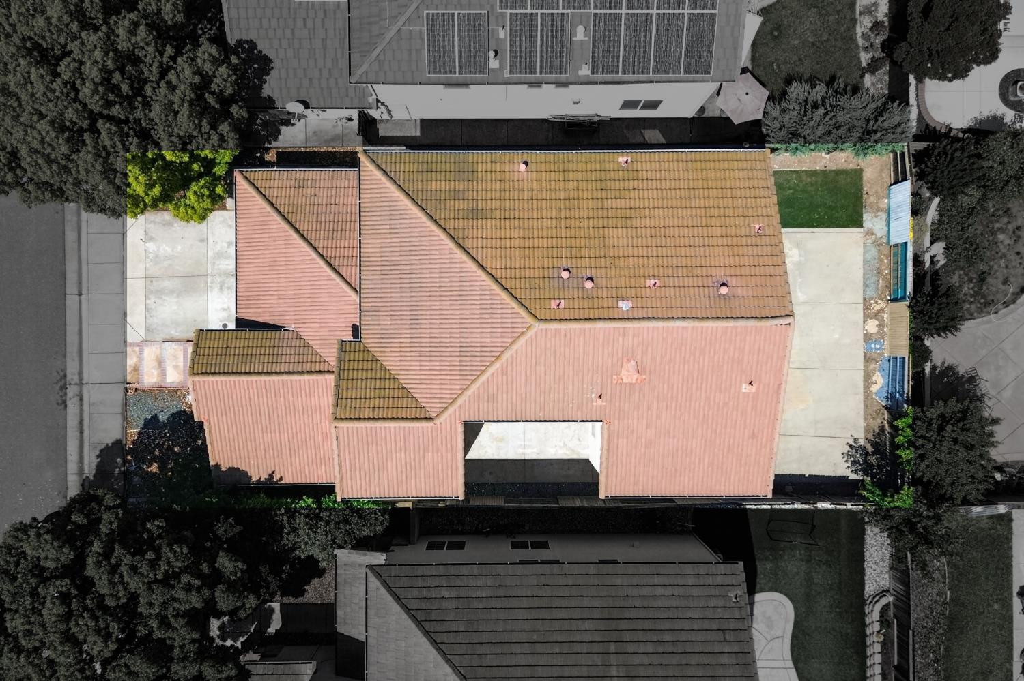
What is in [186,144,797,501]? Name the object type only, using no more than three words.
house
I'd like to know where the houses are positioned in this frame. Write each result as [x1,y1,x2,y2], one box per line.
[221,0,744,119]
[247,535,757,681]
[186,144,797,501]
